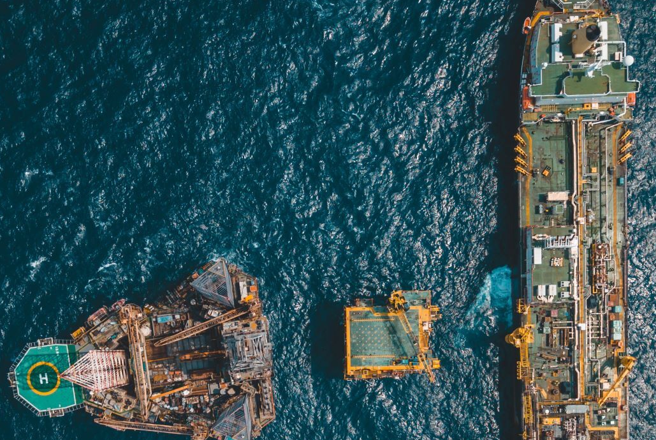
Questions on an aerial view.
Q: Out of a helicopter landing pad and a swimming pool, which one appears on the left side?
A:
helicopter landing pad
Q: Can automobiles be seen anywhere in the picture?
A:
No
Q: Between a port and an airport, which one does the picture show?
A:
port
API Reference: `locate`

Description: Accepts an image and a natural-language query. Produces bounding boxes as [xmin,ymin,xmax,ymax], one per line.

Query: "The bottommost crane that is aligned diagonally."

[597,354,646,406]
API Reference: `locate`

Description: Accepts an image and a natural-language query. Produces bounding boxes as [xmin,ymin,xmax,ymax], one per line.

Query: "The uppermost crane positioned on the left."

[154,294,268,347]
